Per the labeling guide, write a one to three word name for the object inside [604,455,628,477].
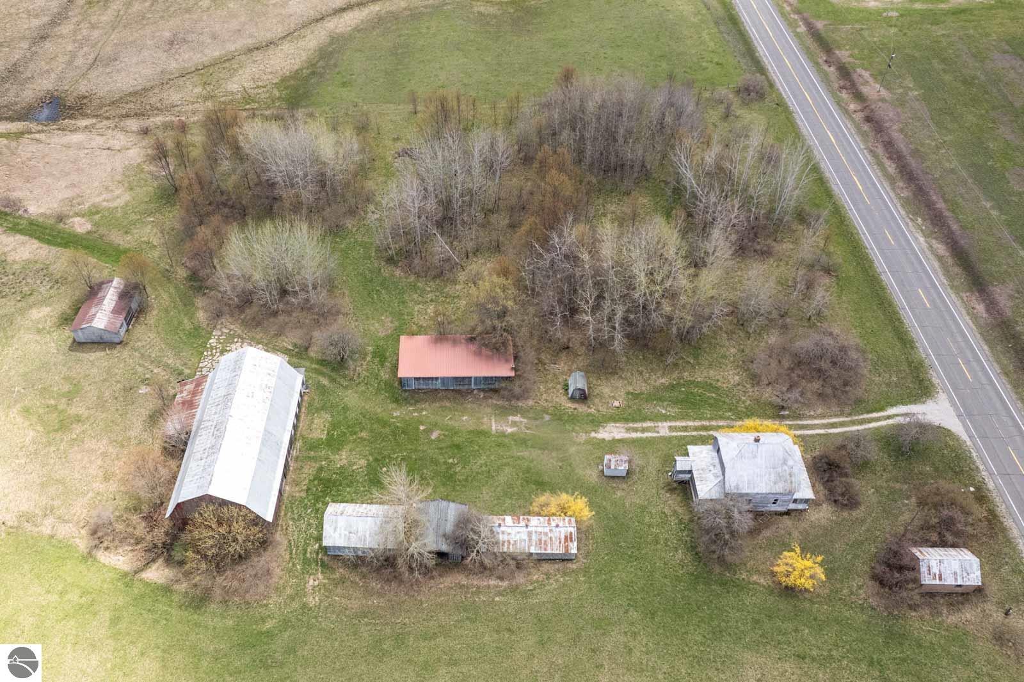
shed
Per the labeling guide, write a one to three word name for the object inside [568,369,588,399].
shed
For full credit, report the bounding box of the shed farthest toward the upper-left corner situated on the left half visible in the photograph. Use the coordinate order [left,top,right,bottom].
[71,276,144,343]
